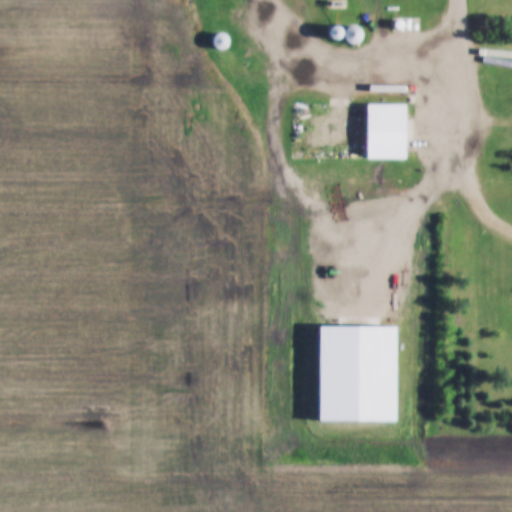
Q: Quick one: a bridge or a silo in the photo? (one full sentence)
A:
Visible in the photo is a silo.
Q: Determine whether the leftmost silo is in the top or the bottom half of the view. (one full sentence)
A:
The leftmost silo is in the top half of the image.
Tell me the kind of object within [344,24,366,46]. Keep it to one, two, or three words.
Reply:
silo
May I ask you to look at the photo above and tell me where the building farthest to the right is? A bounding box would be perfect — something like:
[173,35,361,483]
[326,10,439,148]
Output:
[366,102,407,160]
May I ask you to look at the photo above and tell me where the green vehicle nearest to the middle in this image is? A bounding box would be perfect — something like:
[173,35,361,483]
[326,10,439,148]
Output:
[326,266,342,279]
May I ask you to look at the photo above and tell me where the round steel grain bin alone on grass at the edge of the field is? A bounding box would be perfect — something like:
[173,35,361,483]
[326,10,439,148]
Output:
[212,32,232,52]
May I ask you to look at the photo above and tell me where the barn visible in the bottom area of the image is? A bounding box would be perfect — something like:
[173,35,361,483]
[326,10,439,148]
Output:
[319,324,398,422]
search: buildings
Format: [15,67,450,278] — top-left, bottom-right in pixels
[366,102,407,160]
[319,324,398,422]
